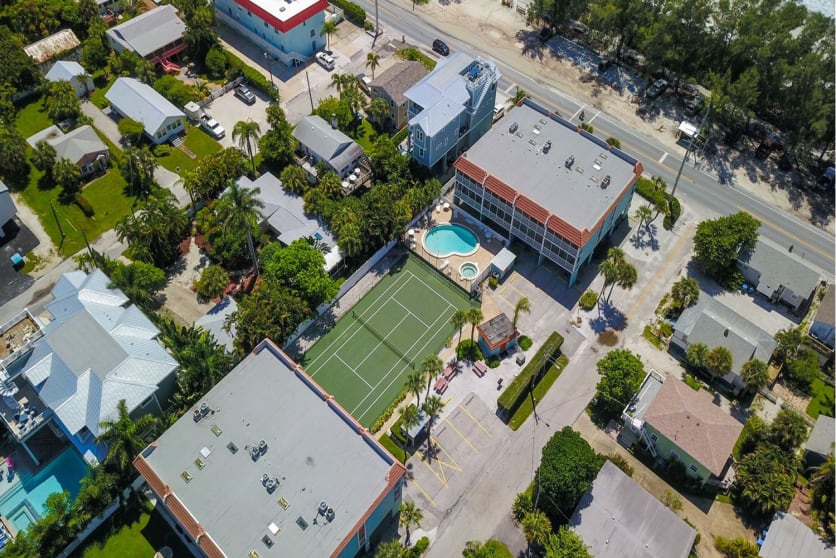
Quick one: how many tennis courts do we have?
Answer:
one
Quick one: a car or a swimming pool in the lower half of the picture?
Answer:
swimming pool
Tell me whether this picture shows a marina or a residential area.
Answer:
residential area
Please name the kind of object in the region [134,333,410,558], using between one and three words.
building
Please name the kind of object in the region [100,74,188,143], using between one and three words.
house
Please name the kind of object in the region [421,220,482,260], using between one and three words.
swimming pool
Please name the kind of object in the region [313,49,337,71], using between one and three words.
car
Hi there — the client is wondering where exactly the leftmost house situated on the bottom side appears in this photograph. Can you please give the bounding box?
[0,266,193,473]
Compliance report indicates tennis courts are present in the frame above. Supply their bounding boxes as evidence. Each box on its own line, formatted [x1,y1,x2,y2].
[294,250,482,430]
